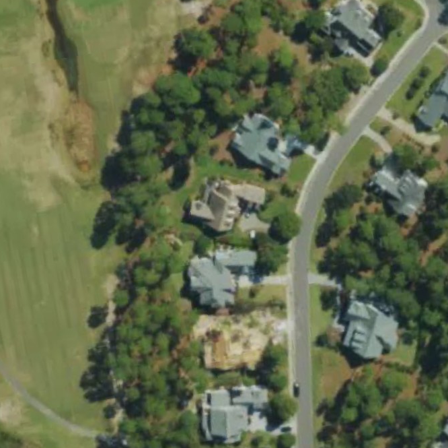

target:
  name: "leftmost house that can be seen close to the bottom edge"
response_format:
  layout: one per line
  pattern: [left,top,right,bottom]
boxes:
[202,384,269,443]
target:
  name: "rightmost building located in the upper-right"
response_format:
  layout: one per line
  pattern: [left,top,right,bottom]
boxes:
[415,56,448,127]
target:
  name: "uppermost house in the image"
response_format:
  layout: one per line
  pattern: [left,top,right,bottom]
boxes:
[323,0,388,60]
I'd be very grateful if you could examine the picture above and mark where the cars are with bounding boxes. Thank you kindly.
[280,426,292,432]
[293,383,299,395]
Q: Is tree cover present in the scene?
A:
Yes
